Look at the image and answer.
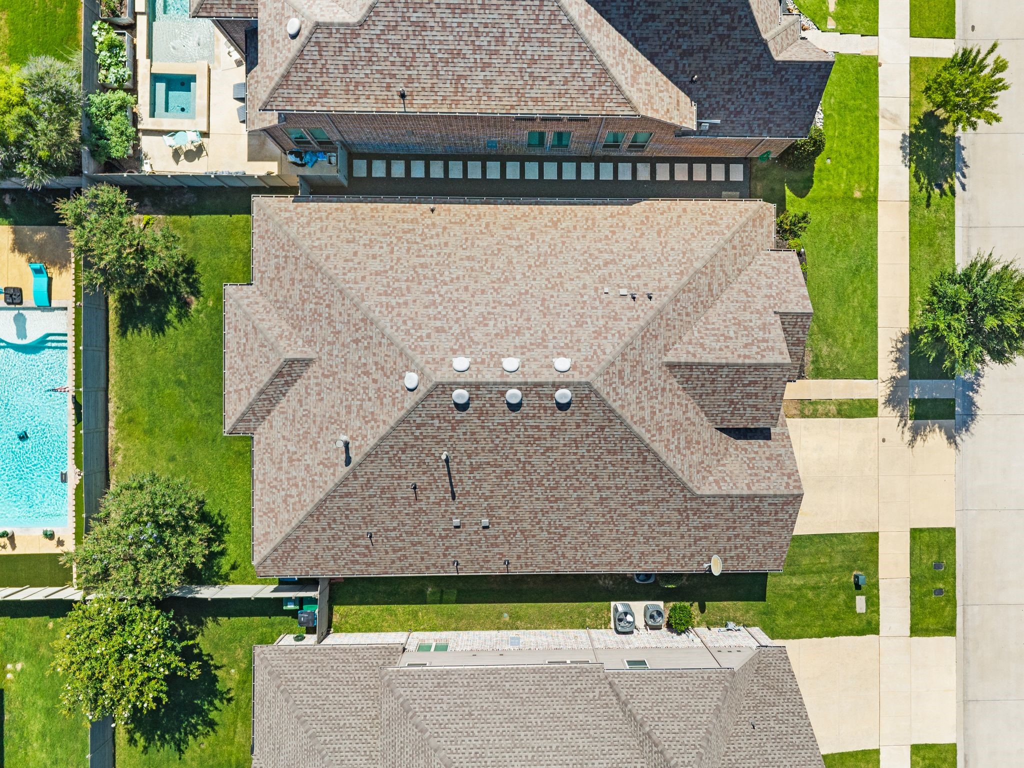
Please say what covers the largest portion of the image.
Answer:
buildings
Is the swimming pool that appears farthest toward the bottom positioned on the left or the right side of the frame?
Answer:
left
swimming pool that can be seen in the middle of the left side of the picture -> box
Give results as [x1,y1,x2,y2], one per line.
[0,298,73,536]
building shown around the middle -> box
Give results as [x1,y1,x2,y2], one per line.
[221,194,811,578]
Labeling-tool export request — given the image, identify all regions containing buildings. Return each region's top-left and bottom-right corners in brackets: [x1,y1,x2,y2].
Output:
[186,0,834,162]
[221,194,811,578]
[249,621,822,768]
